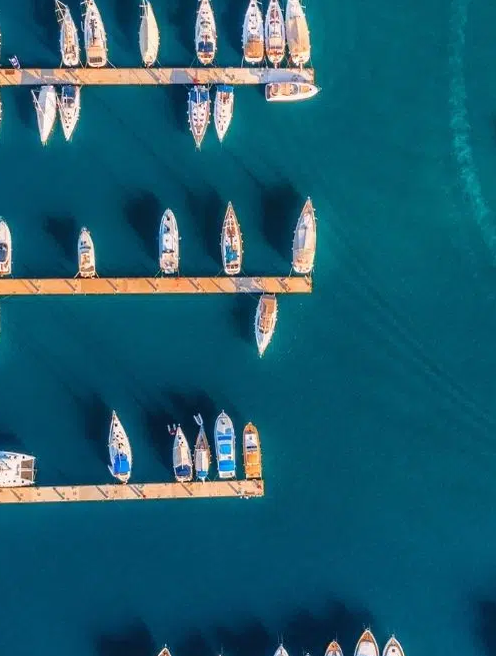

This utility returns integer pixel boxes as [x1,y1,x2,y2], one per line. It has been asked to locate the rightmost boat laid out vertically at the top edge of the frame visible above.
[285,0,313,74]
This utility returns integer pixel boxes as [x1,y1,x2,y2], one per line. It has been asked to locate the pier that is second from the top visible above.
[0,276,311,296]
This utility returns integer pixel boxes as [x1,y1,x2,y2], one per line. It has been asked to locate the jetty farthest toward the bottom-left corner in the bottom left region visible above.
[0,480,265,505]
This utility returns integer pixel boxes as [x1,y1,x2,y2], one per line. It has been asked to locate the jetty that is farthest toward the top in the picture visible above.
[0,67,314,86]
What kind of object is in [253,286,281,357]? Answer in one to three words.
boat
